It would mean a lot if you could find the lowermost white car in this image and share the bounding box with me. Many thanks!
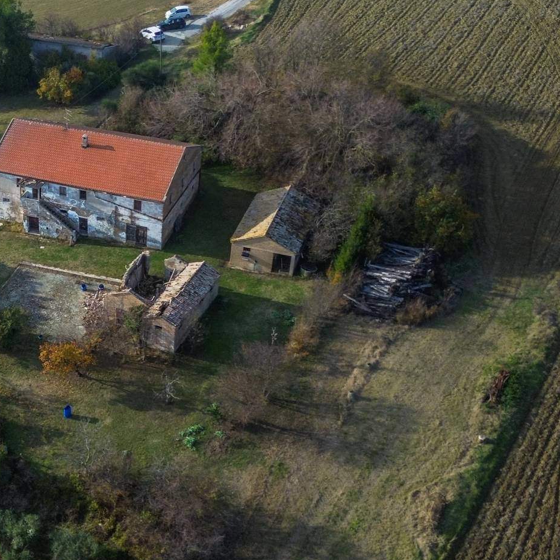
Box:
[140,28,167,42]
